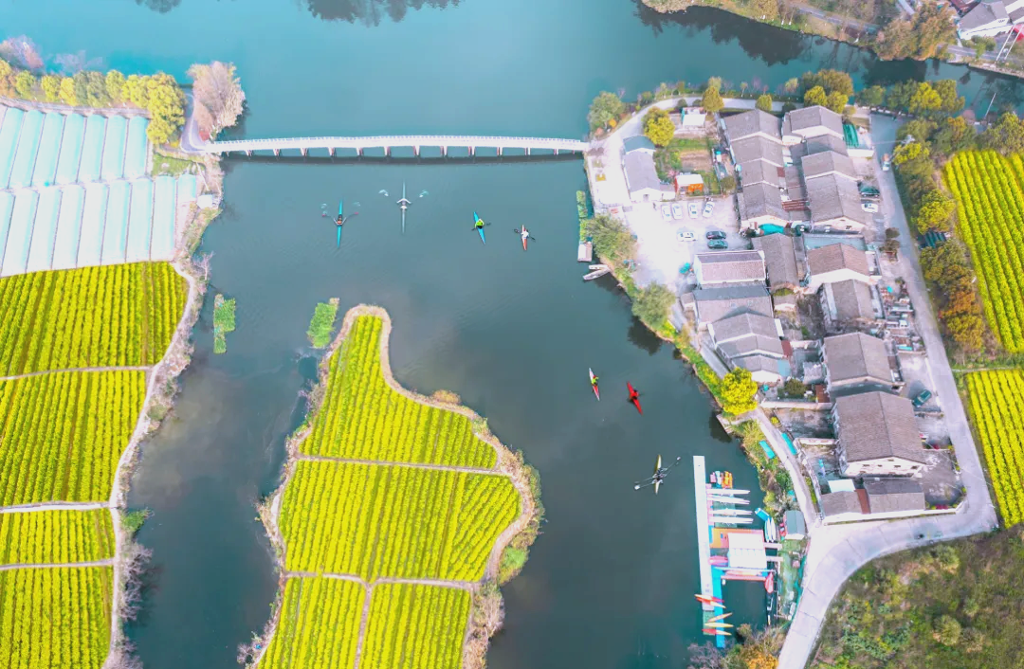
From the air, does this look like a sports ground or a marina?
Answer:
marina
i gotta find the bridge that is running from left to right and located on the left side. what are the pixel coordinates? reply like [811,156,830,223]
[203,135,587,156]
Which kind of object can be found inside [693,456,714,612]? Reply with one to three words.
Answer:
pier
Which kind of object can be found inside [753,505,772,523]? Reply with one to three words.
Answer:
boat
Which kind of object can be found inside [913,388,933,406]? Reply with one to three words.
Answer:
car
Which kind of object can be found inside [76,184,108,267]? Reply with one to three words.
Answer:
greenhouse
